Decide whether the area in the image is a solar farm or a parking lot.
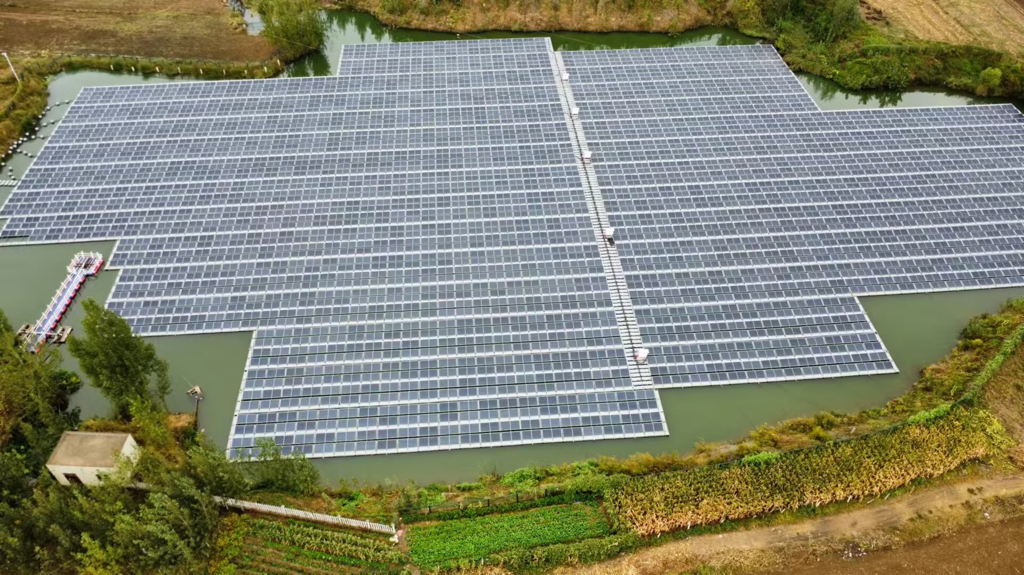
solar farm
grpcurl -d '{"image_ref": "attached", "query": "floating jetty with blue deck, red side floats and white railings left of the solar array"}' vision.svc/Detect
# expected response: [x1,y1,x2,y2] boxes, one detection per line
[23,249,105,352]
